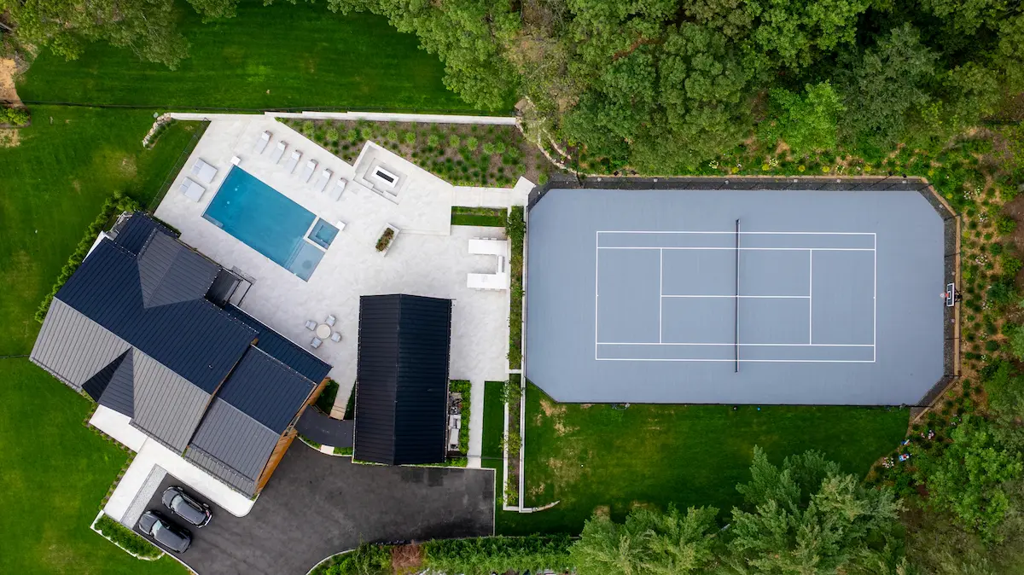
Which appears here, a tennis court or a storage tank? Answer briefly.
tennis court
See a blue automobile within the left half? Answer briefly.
No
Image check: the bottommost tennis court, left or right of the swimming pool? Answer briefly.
on its right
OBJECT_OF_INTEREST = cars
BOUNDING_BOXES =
[161,485,218,530]
[139,510,196,556]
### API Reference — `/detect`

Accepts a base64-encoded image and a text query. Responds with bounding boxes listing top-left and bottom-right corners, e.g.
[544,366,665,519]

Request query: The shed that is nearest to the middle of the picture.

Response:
[352,292,452,465]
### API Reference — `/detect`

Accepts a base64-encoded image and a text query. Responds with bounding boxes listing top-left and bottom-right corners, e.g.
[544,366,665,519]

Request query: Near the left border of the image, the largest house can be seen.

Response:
[29,211,335,501]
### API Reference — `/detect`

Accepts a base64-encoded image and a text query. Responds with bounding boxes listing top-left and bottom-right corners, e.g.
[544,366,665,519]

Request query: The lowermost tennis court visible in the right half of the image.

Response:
[527,189,945,405]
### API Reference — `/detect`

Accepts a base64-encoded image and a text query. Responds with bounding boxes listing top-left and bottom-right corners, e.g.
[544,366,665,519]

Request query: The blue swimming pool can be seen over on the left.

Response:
[199,164,341,285]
